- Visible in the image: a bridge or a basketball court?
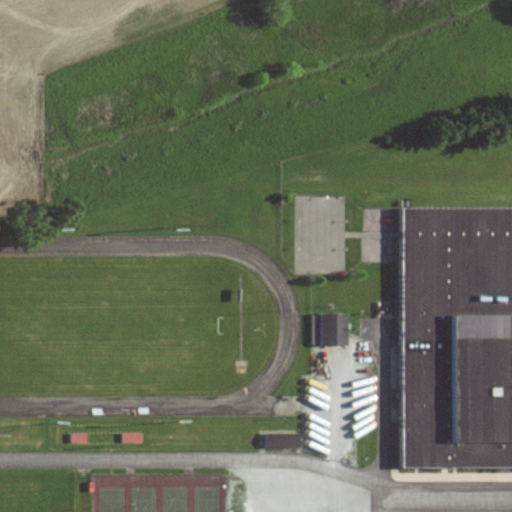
basketball court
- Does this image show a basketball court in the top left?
No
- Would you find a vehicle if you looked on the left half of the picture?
No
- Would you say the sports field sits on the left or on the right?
left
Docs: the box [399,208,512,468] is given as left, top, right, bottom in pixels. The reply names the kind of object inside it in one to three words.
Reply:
building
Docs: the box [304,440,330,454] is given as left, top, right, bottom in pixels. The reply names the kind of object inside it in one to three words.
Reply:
vehicle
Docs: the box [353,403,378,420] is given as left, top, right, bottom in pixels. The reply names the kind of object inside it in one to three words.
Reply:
vehicle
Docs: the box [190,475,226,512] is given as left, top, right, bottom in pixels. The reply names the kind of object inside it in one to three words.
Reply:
tennis court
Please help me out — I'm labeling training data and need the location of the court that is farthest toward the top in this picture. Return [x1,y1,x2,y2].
[294,195,346,273]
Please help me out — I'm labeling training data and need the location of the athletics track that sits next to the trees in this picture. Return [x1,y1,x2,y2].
[0,236,300,416]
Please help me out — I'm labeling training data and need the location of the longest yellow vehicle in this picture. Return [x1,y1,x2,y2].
[303,378,329,392]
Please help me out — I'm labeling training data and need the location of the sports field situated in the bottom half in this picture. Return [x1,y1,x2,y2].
[0,256,280,397]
